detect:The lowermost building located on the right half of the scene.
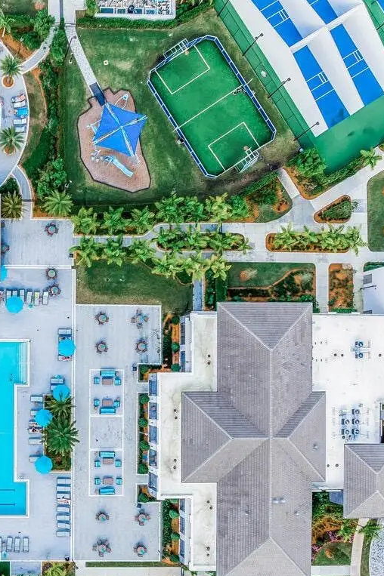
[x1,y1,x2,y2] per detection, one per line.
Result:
[148,302,384,576]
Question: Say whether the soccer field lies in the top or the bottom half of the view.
top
